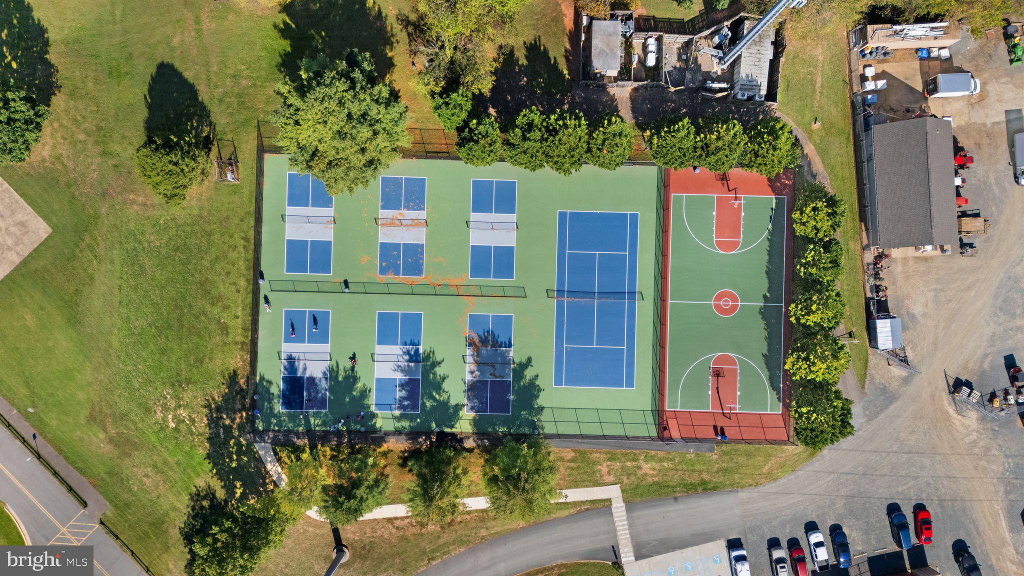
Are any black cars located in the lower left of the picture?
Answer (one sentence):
No, in the lower left of the picture there is no black car.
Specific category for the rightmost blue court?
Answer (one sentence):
In the photo, the rightmost blue court shows up as a tennis court.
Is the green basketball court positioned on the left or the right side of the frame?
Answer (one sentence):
You can find the green basketball court on the right side of the picture.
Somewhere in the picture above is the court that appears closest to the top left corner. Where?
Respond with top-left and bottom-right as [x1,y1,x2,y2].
[285,173,334,274]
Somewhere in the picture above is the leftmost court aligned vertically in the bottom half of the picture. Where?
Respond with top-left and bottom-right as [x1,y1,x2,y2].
[281,309,330,411]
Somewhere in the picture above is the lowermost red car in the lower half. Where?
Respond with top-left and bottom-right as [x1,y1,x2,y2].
[789,544,809,576]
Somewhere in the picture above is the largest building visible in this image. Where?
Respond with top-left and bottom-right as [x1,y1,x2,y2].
[864,118,960,248]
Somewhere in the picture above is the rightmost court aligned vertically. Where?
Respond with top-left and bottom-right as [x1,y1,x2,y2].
[659,169,794,440]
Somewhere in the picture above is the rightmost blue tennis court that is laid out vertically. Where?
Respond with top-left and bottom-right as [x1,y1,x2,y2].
[554,211,639,388]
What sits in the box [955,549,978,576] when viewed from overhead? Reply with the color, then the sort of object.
black car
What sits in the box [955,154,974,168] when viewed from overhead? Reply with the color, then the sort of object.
red work vehicle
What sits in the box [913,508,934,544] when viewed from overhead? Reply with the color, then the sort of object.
red car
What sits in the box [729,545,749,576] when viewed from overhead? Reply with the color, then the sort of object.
white car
